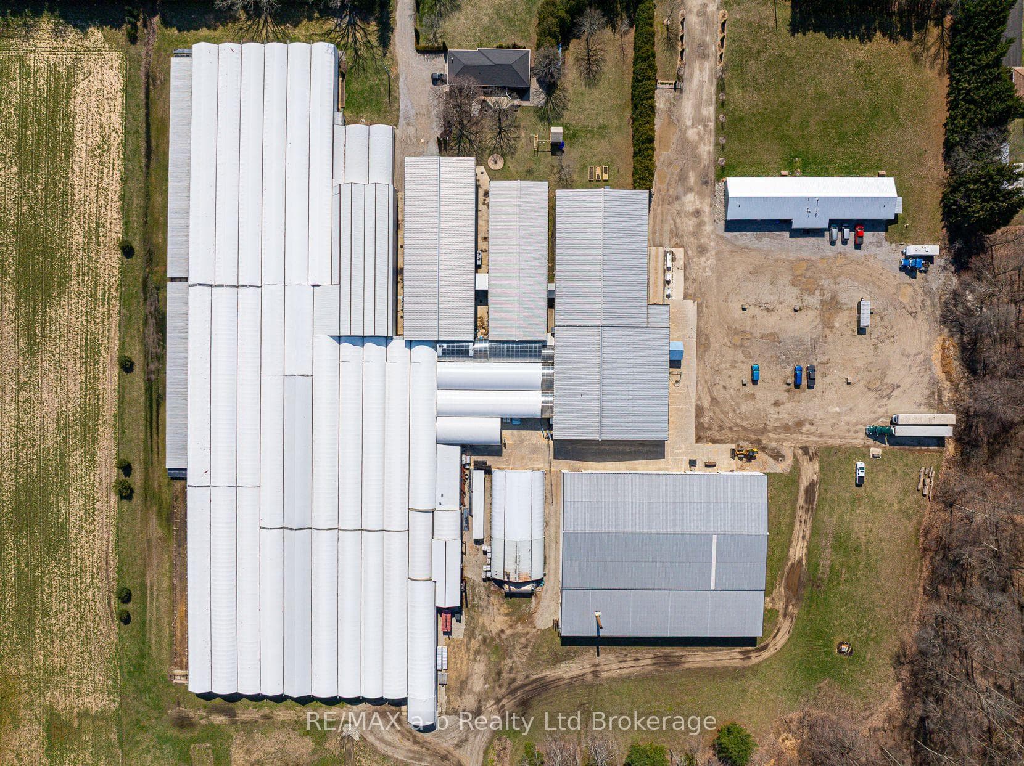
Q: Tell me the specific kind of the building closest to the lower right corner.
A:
warehouse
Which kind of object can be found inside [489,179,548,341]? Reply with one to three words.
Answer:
shed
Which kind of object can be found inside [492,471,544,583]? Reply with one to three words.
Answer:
shed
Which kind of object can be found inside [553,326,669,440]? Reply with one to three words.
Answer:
building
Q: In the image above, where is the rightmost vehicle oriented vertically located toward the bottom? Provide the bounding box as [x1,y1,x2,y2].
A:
[854,461,866,485]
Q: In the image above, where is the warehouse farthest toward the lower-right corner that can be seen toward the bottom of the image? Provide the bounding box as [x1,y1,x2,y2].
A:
[562,470,769,637]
